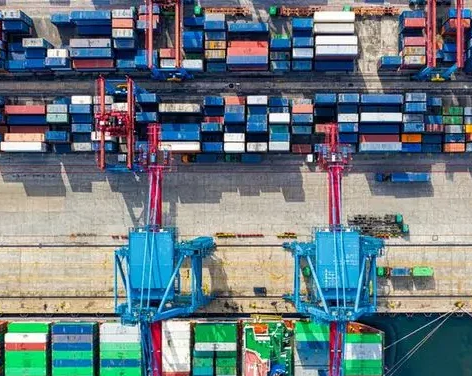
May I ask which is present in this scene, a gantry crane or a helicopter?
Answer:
gantry crane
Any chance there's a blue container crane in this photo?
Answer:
Yes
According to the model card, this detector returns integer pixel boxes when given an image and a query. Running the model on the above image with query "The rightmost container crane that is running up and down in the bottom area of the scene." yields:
[280,121,388,376]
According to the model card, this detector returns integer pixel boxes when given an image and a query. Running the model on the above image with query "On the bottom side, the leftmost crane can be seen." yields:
[111,122,218,376]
